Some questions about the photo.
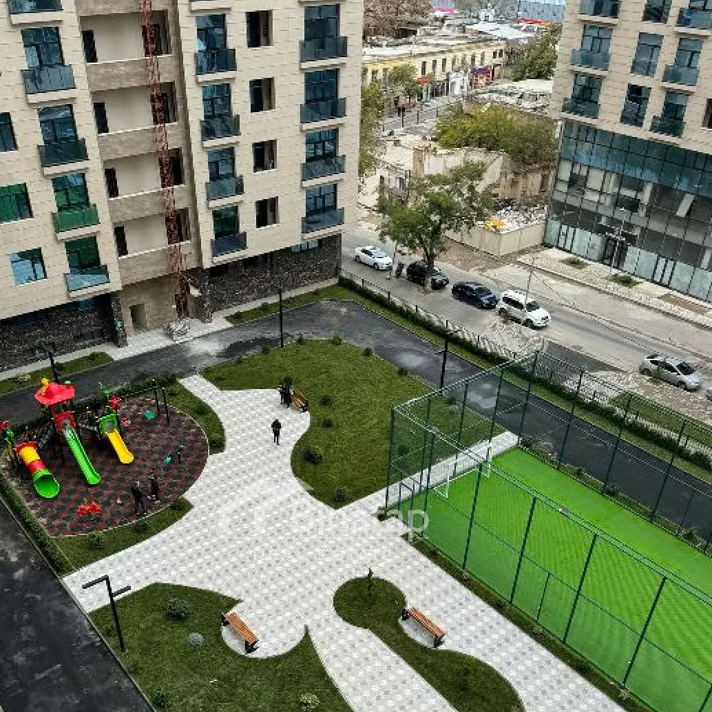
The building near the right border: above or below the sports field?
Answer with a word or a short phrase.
above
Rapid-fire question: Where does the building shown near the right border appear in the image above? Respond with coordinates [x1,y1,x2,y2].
[547,0,712,301]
